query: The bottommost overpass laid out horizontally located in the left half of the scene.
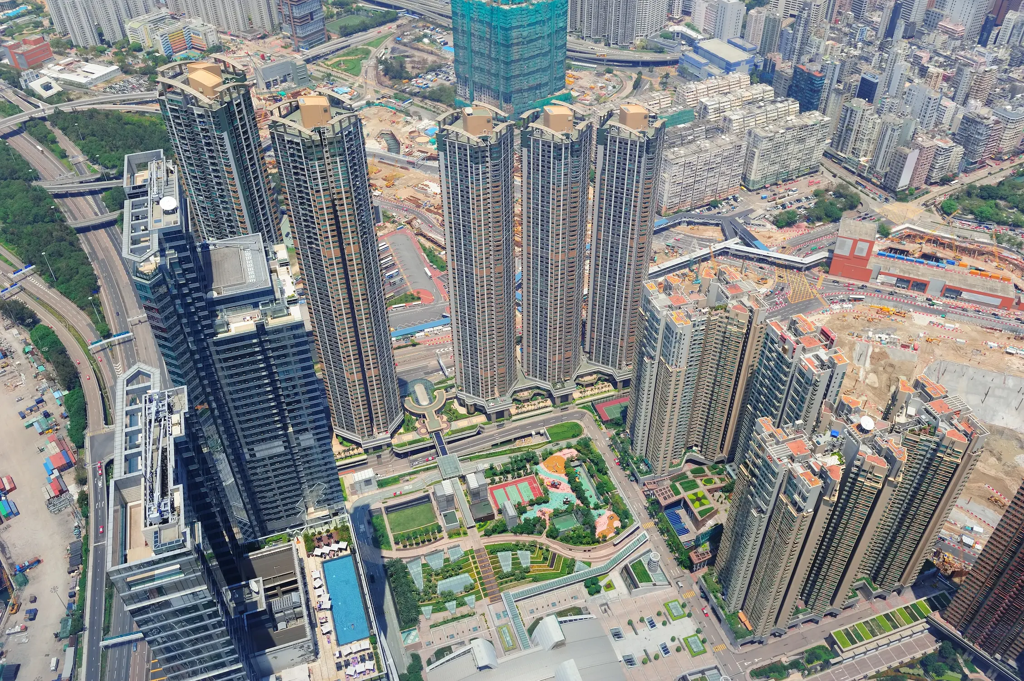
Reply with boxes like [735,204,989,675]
[62,206,135,233]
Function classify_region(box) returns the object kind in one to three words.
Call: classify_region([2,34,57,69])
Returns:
building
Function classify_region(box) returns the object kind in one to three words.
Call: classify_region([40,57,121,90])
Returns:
shed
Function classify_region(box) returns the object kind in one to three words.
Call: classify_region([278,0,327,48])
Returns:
building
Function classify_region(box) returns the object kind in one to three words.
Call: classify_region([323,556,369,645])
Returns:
swimming pool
